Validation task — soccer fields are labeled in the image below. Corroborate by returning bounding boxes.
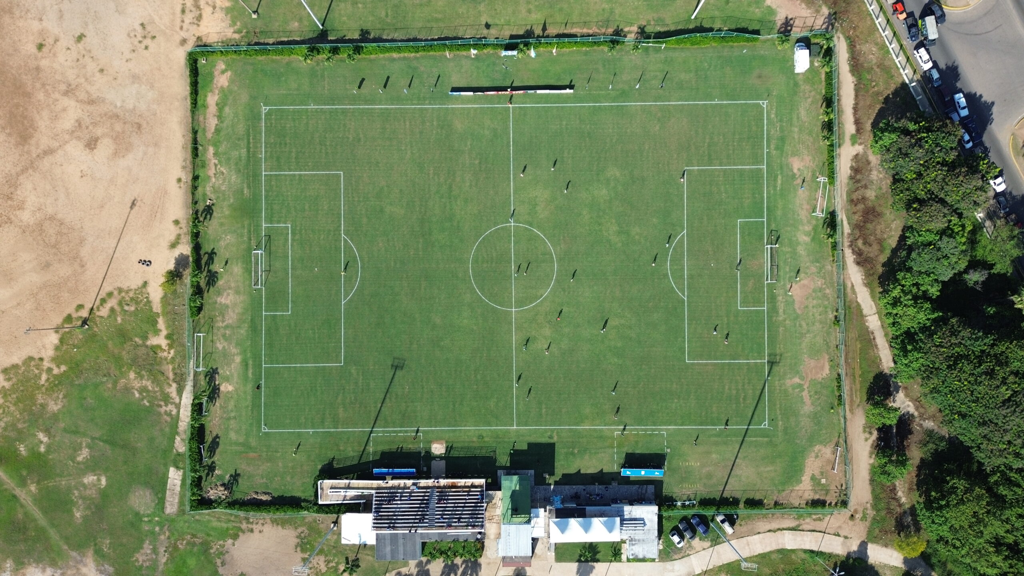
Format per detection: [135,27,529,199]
[258,98,772,468]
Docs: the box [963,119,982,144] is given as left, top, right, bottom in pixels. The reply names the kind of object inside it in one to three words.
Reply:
vehicle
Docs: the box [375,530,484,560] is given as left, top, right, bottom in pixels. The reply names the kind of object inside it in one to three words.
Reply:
building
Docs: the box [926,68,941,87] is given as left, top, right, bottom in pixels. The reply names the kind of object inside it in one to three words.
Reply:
car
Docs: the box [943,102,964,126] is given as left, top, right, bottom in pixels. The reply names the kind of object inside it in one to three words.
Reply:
truck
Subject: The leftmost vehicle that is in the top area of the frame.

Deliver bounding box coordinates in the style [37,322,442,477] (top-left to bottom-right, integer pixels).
[793,43,811,75]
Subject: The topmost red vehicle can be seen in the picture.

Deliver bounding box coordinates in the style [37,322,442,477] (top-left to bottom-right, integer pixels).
[890,1,906,21]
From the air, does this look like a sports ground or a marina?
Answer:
sports ground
